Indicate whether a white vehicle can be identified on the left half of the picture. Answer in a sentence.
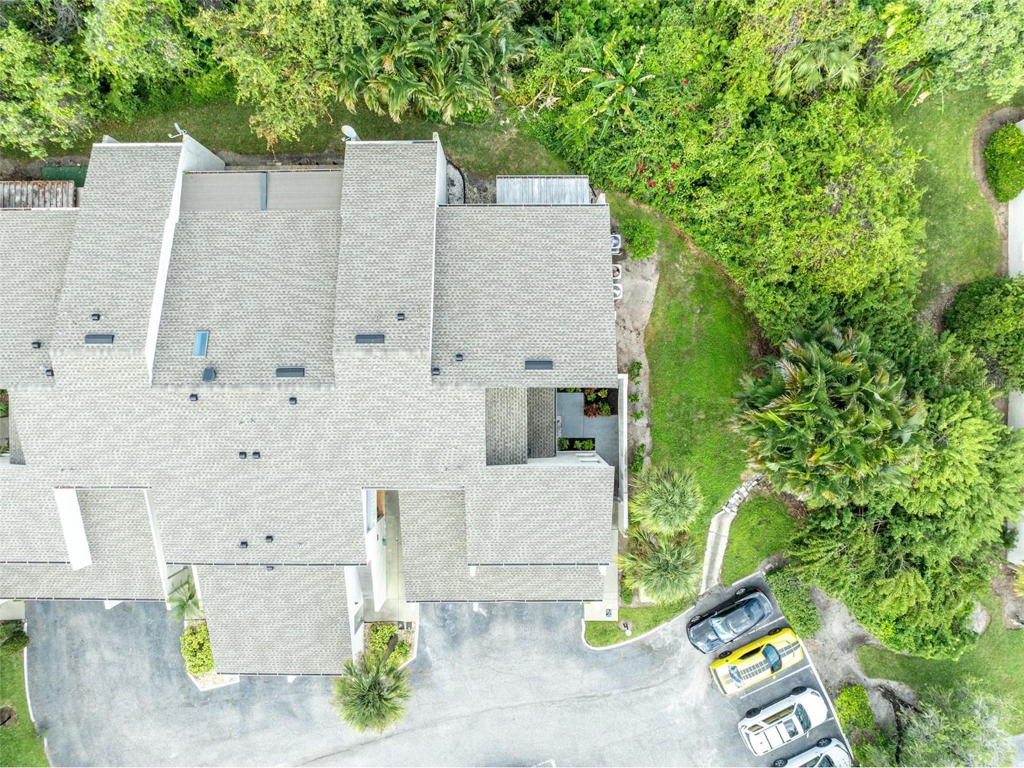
No, I see no white vehicle on the left half of the picture.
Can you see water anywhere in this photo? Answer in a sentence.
No, there's no water in this view.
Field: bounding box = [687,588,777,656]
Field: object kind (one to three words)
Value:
car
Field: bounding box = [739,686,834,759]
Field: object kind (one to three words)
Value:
car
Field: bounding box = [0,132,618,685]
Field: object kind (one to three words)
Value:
building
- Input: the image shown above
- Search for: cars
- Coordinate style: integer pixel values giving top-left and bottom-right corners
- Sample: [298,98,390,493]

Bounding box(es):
[772,737,860,768]
[687,588,777,656]
[711,627,803,701]
[739,686,834,759]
